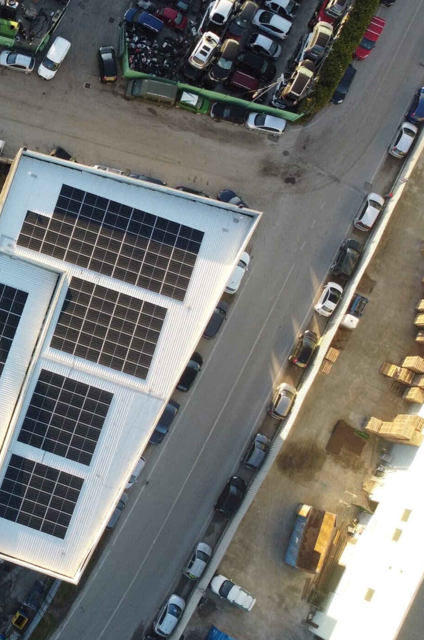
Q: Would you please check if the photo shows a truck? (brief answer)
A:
Yes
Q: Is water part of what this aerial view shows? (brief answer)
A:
No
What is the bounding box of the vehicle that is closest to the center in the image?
[200,301,229,340]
